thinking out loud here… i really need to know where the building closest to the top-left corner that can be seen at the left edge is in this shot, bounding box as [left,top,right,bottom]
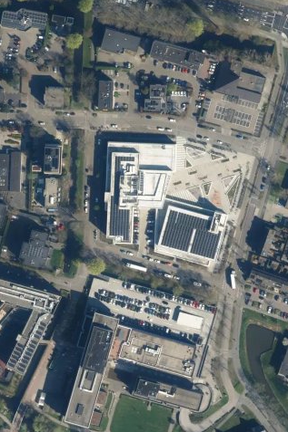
[1,8,48,31]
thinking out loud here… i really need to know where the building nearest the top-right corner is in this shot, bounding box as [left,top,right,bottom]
[217,60,269,103]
